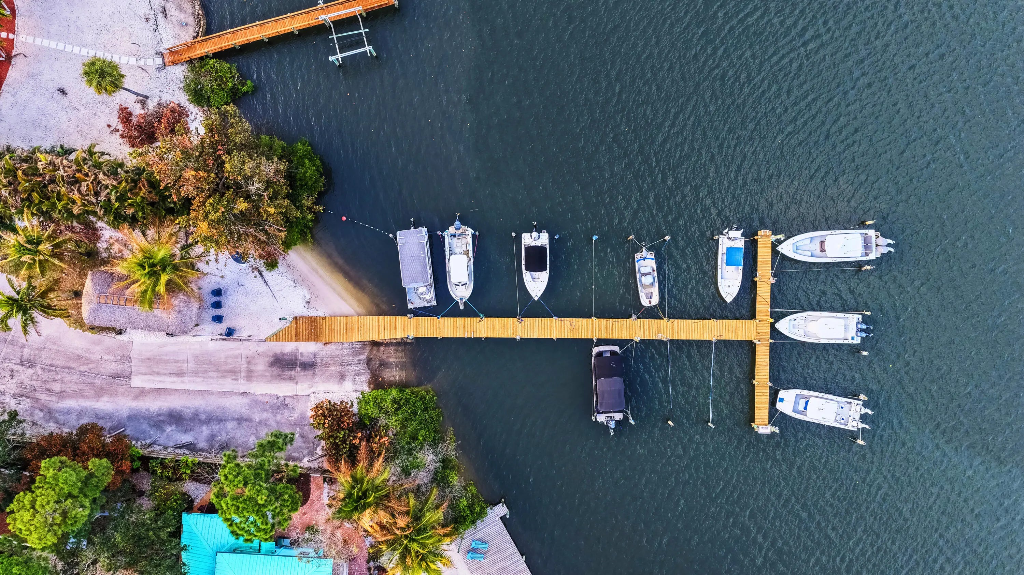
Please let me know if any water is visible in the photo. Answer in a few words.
Yes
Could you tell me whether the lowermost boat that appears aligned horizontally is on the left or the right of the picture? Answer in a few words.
right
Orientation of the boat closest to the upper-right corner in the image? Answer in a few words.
horizontally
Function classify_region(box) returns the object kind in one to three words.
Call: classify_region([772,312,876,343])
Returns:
boat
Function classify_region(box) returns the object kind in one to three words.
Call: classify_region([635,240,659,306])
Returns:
boat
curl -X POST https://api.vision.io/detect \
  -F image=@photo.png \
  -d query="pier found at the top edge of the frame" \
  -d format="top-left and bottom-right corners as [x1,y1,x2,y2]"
[159,0,402,65]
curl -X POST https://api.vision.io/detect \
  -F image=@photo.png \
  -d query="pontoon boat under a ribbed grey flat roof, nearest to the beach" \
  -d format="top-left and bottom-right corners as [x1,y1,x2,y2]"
[397,216,437,308]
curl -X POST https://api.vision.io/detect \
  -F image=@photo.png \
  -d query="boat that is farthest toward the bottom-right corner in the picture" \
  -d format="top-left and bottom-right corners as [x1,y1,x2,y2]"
[775,389,875,430]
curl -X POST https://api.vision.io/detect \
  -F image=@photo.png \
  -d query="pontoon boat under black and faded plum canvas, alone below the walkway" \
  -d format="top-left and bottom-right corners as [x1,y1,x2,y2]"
[593,345,626,436]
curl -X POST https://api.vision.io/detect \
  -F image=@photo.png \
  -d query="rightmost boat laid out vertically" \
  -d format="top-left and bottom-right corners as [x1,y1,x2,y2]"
[716,225,745,303]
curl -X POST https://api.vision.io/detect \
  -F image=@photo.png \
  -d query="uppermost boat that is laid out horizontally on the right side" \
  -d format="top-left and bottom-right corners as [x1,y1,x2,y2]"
[773,228,895,263]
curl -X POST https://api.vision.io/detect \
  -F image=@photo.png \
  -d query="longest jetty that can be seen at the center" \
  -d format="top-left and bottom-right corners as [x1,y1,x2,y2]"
[266,229,781,431]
